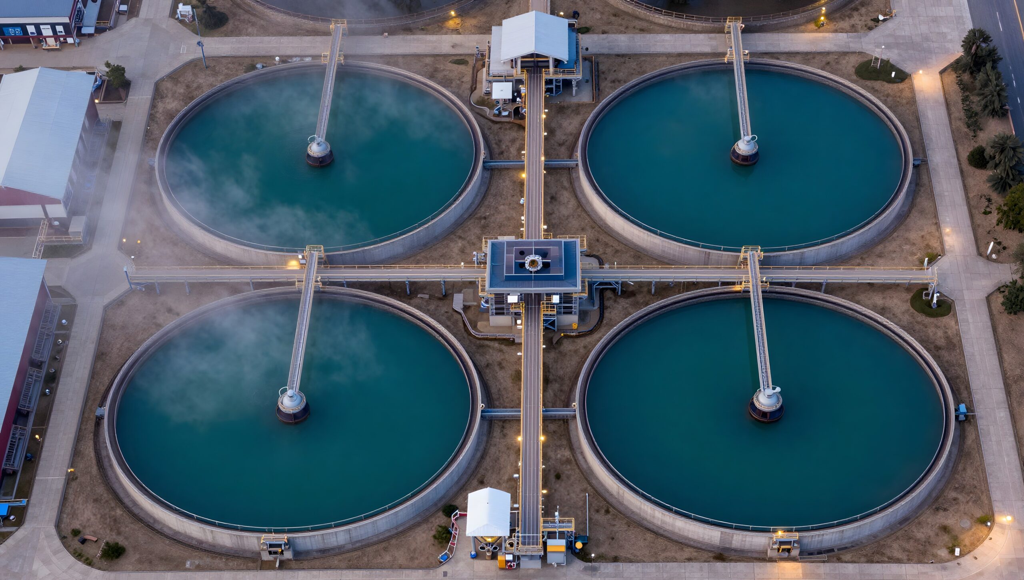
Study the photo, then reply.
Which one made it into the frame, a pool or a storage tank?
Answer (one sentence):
Visible in the photo is a storage tank.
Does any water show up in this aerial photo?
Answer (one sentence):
Yes, water can be seen from above here.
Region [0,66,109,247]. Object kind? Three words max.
building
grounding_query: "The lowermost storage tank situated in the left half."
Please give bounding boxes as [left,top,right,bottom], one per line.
[94,287,496,561]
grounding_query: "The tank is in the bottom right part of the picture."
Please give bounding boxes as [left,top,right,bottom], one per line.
[563,286,966,560]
